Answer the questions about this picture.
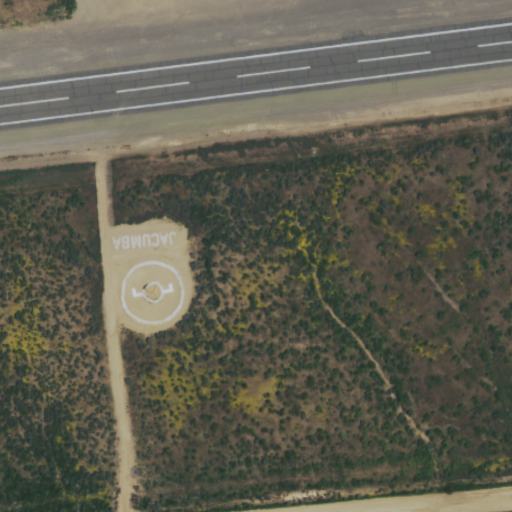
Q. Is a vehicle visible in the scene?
No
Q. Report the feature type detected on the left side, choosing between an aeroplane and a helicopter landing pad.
helicopter landing pad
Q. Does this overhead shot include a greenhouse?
No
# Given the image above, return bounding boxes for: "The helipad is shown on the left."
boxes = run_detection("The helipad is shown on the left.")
[105,217,194,335]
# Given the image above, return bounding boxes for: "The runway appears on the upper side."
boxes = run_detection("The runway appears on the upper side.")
[0,18,512,130]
